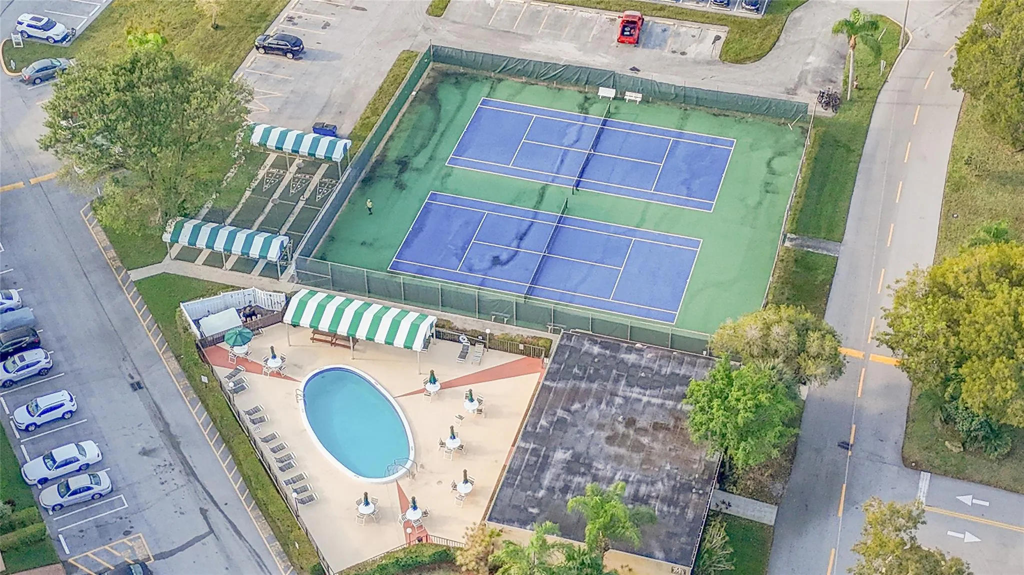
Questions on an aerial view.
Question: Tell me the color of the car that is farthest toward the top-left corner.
white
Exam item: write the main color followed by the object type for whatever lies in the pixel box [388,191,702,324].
blue tennis court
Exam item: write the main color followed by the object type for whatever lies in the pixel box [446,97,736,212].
blue tennis court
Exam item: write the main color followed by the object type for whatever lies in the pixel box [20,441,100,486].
white car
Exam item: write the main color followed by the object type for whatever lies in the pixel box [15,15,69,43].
white car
